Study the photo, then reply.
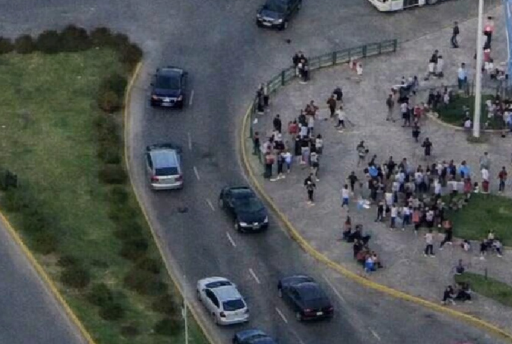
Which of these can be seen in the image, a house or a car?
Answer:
car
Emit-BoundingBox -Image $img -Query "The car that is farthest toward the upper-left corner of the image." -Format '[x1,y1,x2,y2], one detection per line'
[153,61,189,102]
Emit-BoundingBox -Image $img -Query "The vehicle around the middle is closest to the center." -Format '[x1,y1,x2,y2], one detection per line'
[215,168,269,226]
